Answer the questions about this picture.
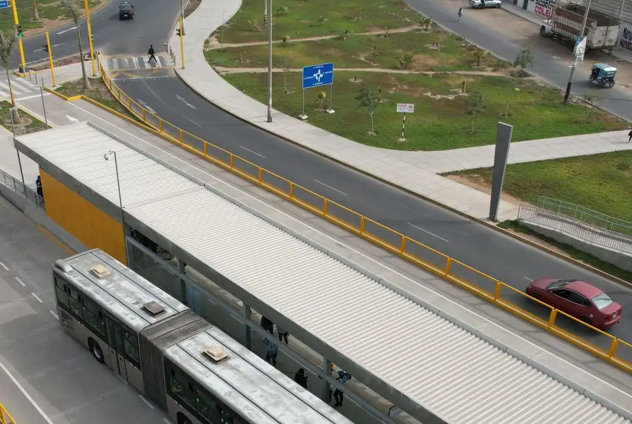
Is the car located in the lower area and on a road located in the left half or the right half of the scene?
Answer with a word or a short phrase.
right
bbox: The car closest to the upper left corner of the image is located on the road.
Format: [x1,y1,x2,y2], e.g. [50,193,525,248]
[113,1,134,20]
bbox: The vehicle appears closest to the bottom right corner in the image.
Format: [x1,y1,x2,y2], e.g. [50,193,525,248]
[524,275,627,328]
